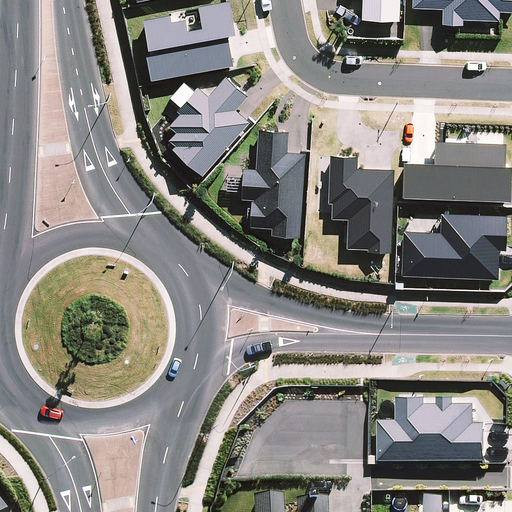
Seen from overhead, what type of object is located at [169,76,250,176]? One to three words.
house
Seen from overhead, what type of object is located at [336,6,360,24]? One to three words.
vehicle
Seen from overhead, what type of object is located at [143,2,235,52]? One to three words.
house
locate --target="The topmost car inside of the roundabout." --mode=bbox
[168,358,180,378]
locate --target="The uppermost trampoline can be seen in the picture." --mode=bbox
[379,402,395,418]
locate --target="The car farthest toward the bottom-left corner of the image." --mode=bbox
[40,407,62,420]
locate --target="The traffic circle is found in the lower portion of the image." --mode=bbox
[0,214,210,444]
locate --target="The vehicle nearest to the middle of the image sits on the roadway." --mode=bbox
[246,344,270,356]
